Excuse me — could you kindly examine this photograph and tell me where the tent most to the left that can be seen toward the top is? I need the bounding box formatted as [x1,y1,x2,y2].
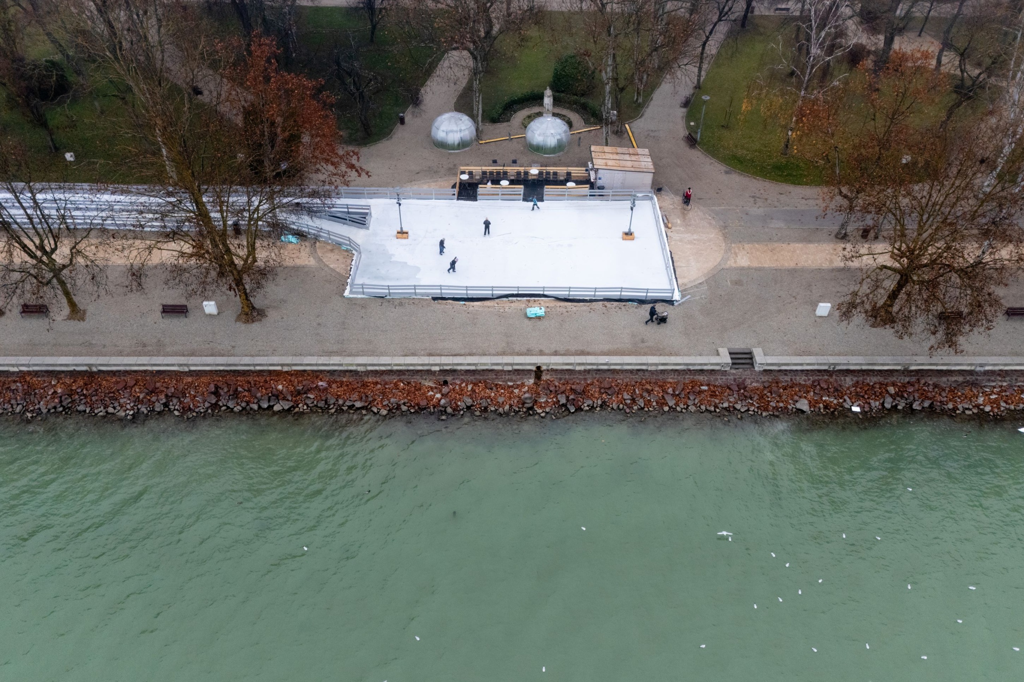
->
[430,109,476,151]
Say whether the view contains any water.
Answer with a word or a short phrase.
Yes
